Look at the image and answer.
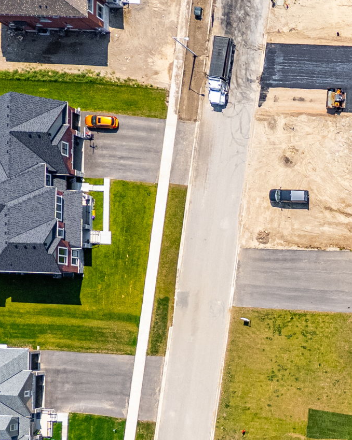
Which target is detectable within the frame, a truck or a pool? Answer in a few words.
truck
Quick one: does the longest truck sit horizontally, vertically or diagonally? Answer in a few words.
vertically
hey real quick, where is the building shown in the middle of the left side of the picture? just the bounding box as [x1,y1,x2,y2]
[0,90,101,277]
